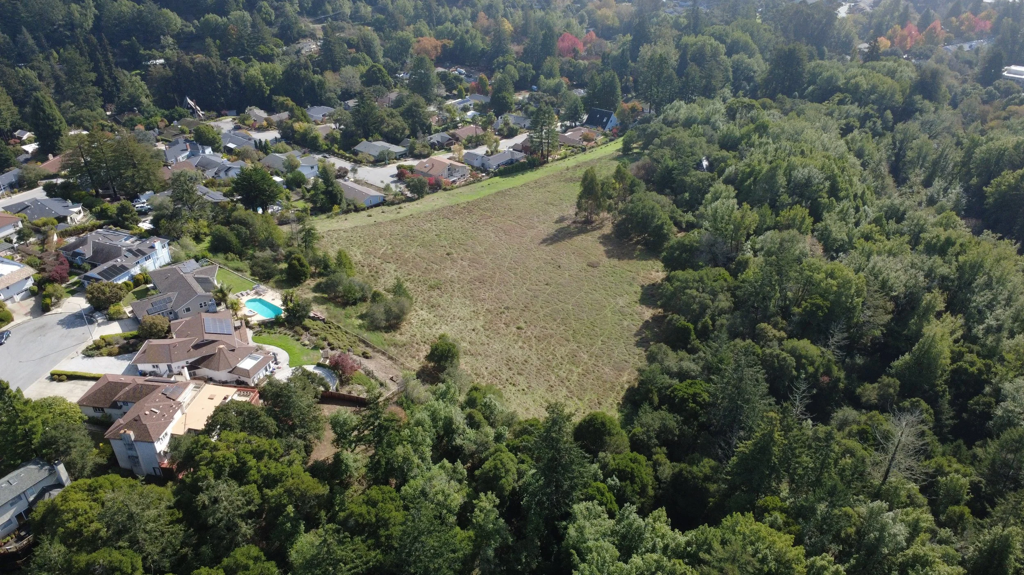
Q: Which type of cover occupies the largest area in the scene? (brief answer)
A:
trees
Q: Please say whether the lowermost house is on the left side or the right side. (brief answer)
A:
left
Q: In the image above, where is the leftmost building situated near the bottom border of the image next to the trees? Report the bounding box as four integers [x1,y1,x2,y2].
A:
[0,455,73,550]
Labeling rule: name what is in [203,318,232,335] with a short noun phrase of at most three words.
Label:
solar panel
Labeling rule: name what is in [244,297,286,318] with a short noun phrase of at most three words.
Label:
swimming pool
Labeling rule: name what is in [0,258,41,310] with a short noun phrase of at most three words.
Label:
house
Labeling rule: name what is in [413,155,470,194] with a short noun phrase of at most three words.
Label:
house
